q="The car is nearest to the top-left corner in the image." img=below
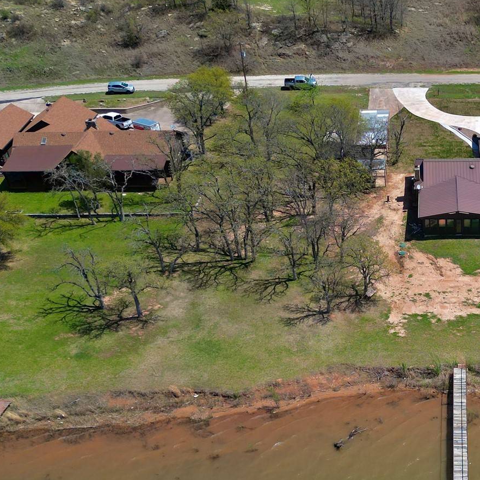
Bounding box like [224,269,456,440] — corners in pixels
[103,82,135,95]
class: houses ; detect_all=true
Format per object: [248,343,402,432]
[0,97,189,189]
[409,146,480,239]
